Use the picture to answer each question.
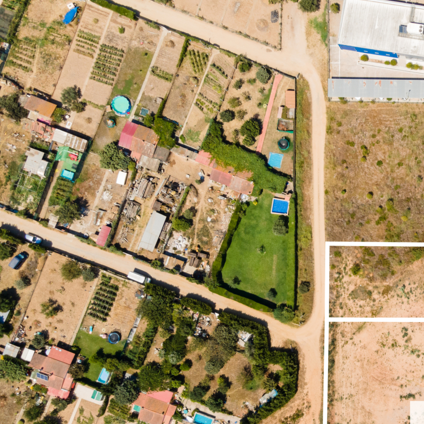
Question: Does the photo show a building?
Yes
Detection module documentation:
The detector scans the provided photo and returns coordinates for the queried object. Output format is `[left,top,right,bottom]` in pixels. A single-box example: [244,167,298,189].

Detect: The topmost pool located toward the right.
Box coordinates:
[268,152,284,169]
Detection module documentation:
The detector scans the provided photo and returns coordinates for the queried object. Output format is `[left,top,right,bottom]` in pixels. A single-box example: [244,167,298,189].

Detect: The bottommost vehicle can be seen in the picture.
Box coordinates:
[125,271,151,284]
